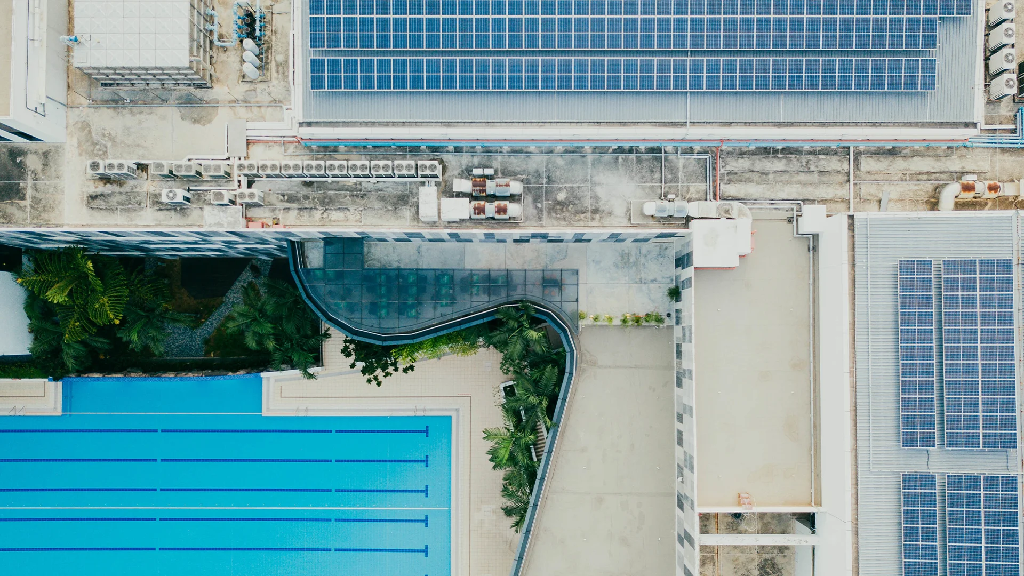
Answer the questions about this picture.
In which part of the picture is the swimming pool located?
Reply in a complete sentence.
The swimming pool is in the bottom left part of the image.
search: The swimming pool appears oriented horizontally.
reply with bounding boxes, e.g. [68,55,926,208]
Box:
[0,373,452,576]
